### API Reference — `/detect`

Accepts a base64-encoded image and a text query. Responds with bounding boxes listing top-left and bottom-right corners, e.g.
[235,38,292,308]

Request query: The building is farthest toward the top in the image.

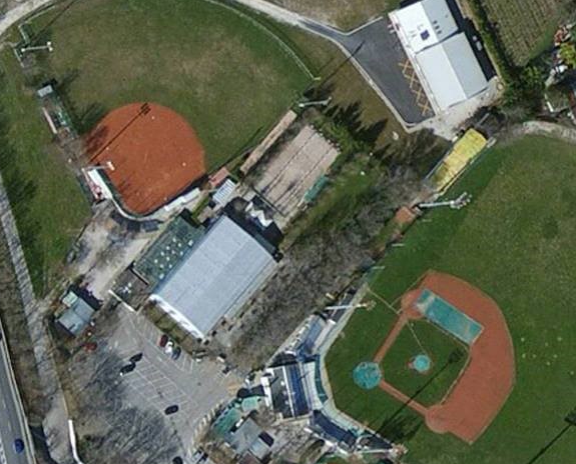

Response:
[392,0,458,52]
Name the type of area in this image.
sports ground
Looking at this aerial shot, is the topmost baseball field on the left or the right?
left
